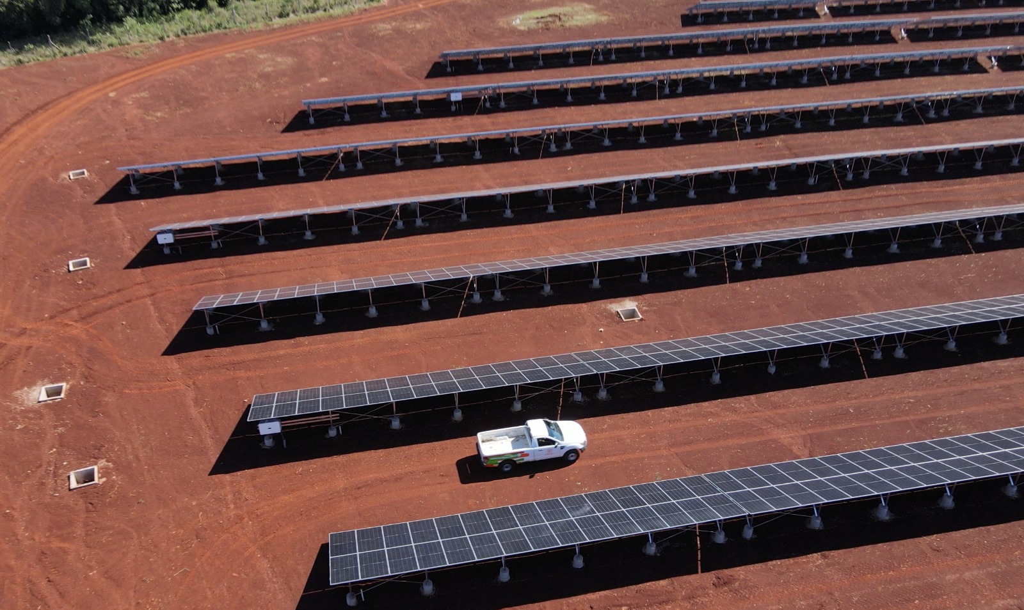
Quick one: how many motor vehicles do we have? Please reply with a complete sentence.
In total, 1 motor vehicle can be seen.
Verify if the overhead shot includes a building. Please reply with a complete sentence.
No, I find no building anywhere in the image.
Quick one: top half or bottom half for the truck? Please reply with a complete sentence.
Seen from above, the truck lies in the bottom half of the view.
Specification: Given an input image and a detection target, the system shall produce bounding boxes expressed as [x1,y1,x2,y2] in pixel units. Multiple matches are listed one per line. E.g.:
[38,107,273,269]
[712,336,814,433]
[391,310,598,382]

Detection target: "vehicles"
[474,417,589,474]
